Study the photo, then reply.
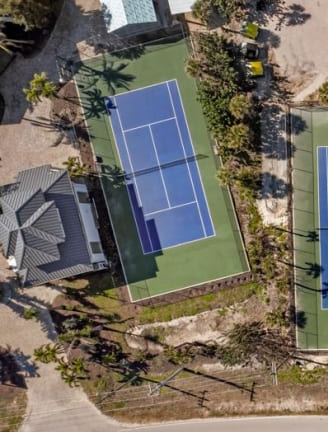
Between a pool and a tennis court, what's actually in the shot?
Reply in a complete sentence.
This aerial view contains a tennis court.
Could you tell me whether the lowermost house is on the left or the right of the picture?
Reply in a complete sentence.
The lowermost house sits on the left side.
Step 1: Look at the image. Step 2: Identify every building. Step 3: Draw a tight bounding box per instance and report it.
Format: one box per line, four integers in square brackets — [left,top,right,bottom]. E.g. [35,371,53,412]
[0,167,111,289]
[101,0,168,40]
[170,0,198,20]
